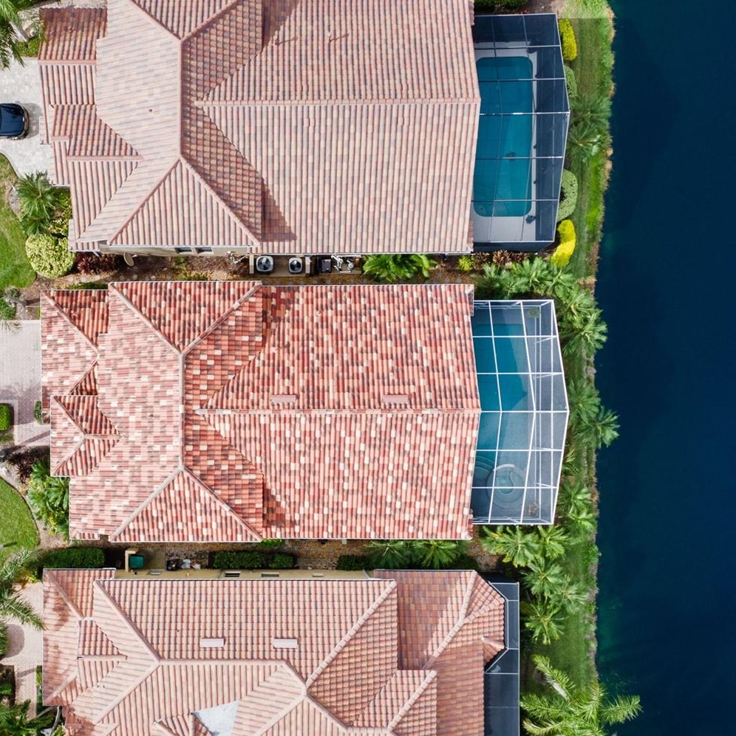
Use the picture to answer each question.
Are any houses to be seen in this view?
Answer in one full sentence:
Yes, there is a house in the image.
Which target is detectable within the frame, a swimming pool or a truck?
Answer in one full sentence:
The image shows a swimming pool.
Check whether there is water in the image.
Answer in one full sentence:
Yes, some water is visible.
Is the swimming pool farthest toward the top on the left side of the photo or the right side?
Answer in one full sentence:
It is on the right.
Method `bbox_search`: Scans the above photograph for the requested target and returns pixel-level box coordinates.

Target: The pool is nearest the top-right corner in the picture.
[475,54,534,219]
